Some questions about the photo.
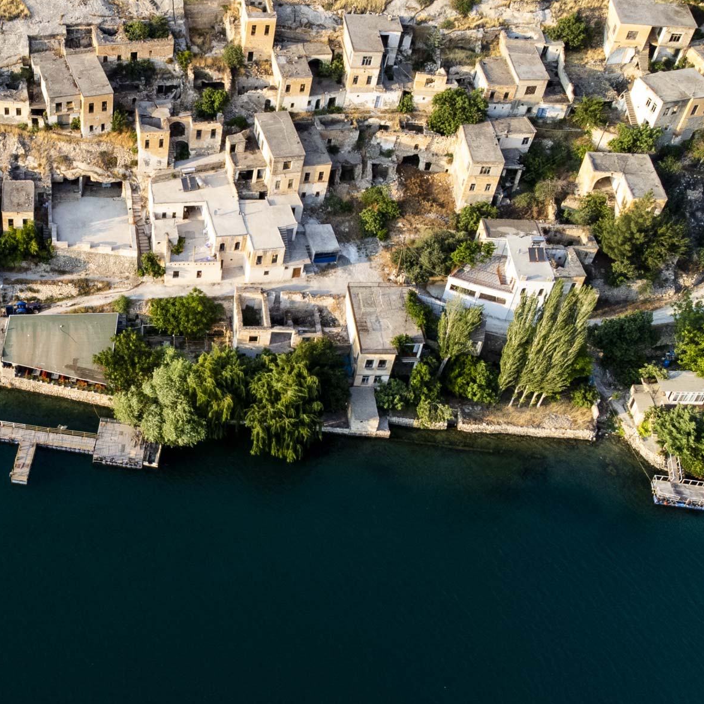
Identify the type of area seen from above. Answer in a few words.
residential area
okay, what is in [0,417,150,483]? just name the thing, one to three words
pier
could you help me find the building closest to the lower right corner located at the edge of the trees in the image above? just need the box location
[626,370,704,423]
